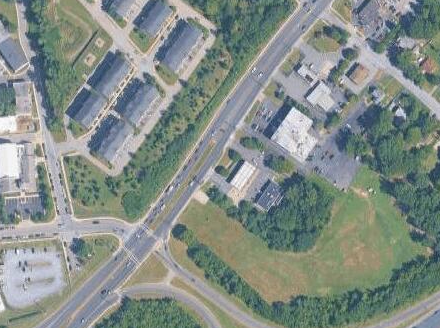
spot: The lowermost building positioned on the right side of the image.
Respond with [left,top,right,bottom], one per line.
[255,183,283,212]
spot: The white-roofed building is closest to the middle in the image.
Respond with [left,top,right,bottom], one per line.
[230,161,257,191]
